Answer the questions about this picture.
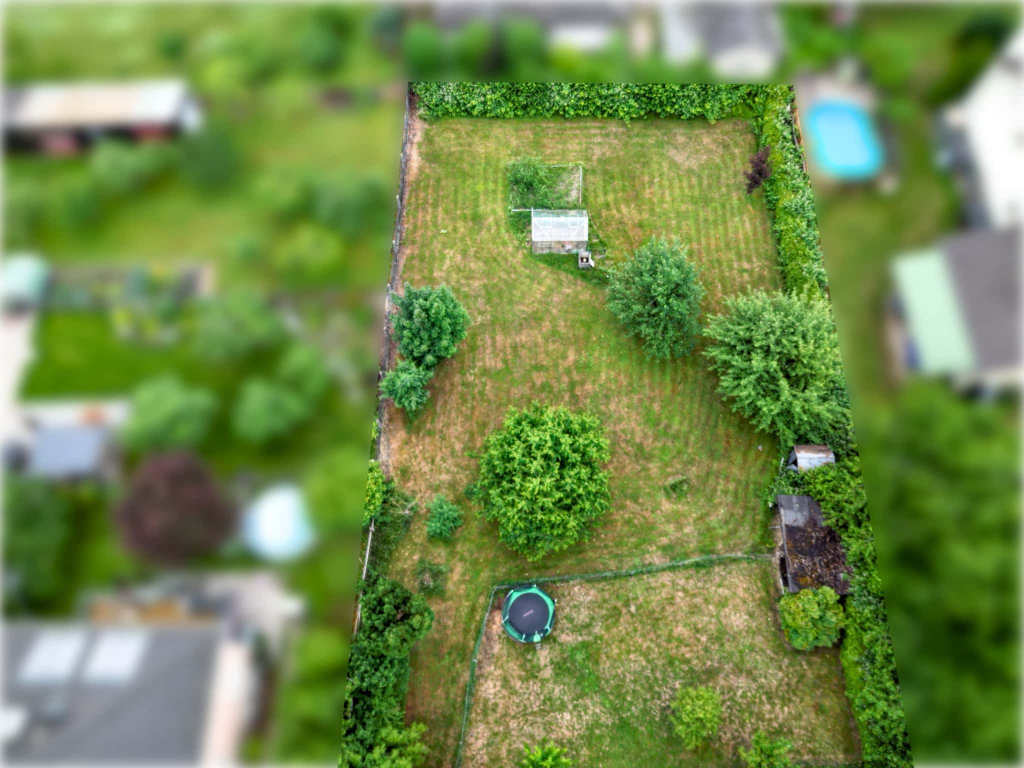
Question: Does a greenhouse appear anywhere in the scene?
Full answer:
Yes, there is a greenhouse in the image.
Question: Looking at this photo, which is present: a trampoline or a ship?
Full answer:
It is a trampoline that can be seen here.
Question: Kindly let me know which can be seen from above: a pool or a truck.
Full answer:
Looking from above, you can make out a pool.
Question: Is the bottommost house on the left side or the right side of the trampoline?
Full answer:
The bottommost house appears to the left of the trampoline in this view.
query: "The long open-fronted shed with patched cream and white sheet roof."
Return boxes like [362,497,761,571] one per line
[0,82,185,151]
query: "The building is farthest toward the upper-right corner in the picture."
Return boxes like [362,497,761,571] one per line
[919,29,1024,237]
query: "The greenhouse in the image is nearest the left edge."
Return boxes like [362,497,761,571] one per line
[0,261,57,314]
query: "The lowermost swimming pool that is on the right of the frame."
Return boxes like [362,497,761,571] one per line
[804,106,882,182]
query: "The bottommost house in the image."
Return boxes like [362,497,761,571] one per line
[0,624,252,768]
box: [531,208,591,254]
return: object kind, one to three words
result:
greenhouse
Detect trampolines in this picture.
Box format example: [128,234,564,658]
[501,585,556,645]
